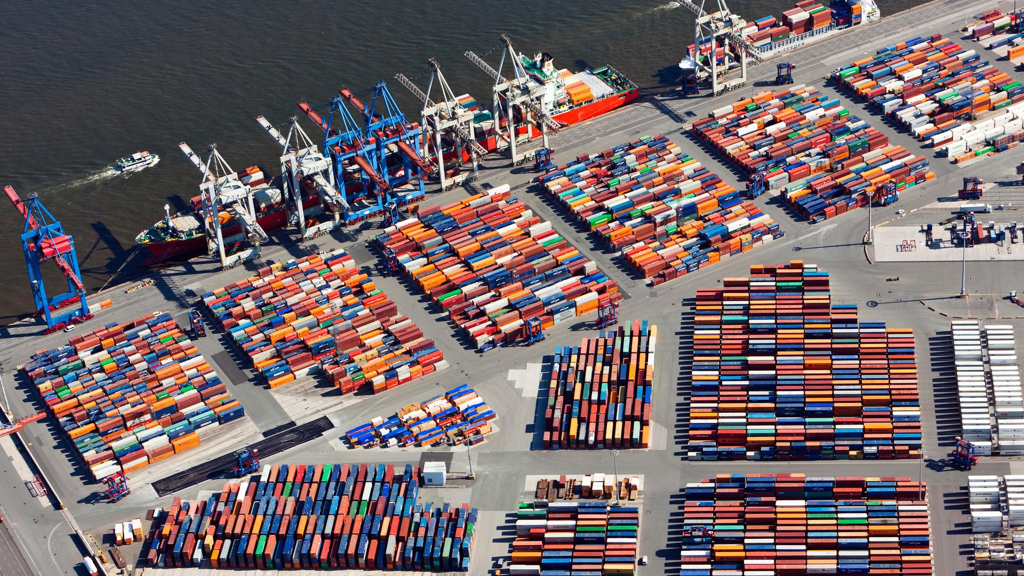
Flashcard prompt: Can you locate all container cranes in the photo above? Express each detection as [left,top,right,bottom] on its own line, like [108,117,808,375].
[0,397,48,433]
[678,0,773,96]
[294,93,397,225]
[336,80,440,210]
[463,34,570,167]
[175,135,272,269]
[392,58,496,192]
[254,109,356,241]
[2,183,92,330]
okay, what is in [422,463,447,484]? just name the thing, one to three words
building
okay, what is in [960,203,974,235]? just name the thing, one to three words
work vehicle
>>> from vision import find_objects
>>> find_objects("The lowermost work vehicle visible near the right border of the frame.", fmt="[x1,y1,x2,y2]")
[953,429,979,464]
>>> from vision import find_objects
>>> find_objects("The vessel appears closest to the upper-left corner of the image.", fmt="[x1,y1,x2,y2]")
[115,154,157,175]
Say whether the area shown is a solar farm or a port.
port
